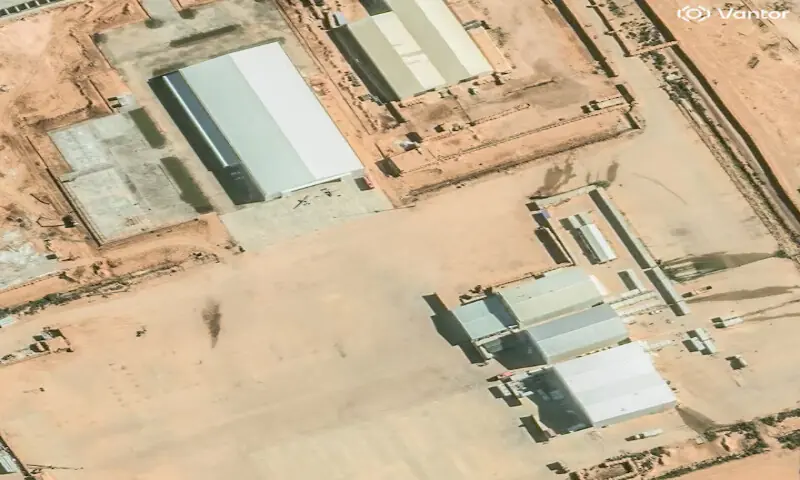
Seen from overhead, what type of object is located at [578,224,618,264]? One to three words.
shed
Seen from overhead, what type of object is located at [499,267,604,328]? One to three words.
shed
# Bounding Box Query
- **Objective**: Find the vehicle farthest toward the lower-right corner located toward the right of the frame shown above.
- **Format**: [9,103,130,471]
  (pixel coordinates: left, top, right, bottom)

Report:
[735,355,748,371]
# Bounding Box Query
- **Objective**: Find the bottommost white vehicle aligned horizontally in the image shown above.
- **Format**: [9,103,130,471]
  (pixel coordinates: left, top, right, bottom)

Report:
[634,425,665,440]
